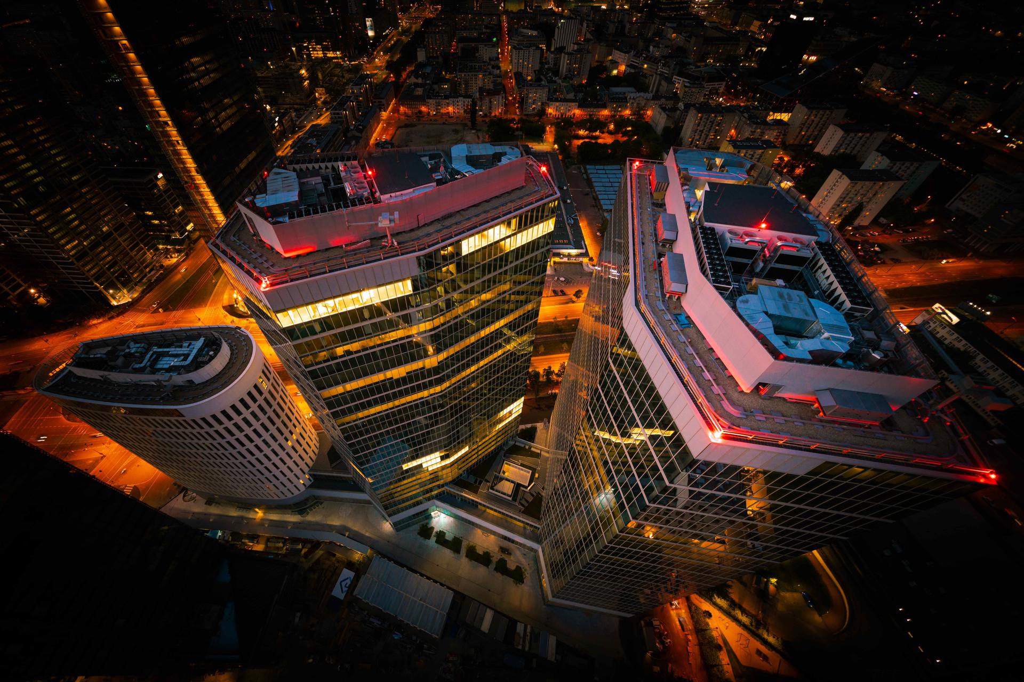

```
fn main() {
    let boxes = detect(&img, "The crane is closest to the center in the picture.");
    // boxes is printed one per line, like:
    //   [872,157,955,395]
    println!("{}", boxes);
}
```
[346,203,404,247]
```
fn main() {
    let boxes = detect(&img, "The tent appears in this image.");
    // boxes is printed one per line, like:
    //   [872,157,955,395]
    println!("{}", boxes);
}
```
[354,555,454,638]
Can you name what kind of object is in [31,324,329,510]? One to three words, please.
building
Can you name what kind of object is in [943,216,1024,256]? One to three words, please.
building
